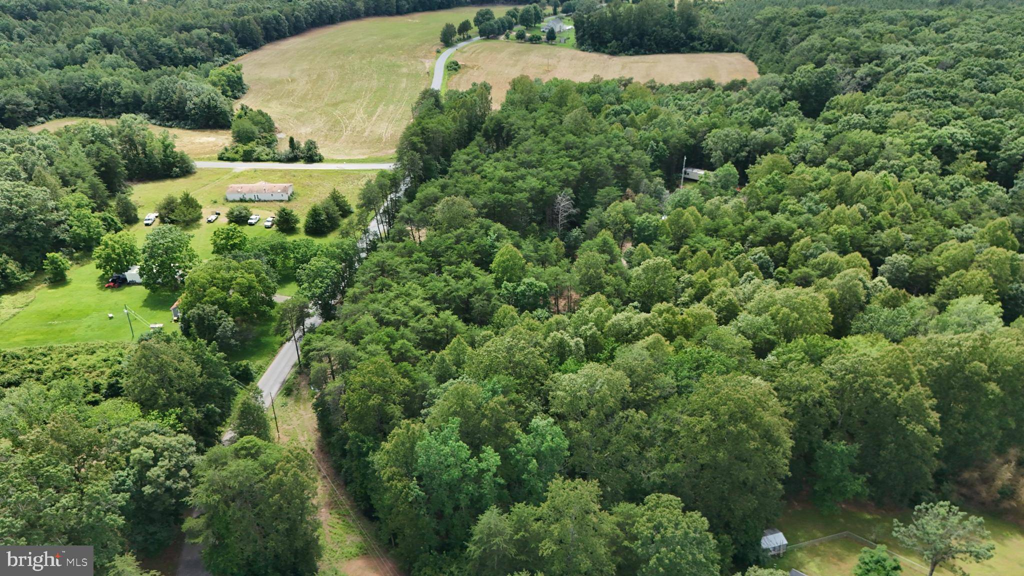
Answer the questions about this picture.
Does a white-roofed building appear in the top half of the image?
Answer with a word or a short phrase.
Yes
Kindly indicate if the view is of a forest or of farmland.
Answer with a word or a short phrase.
forest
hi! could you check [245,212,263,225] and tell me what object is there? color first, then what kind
white vehicle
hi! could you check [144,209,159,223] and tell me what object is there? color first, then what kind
white vehicle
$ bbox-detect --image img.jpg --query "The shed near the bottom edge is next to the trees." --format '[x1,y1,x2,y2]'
[757,526,792,554]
